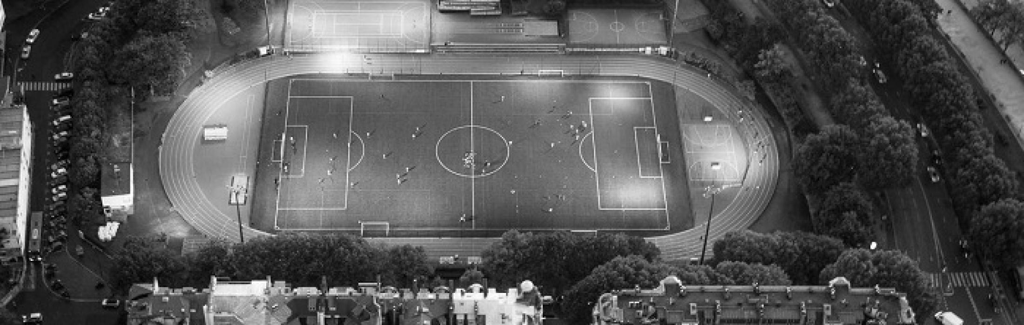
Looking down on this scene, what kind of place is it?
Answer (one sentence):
This looks like a sports ground.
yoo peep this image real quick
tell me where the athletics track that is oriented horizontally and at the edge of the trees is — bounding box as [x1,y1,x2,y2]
[161,53,778,263]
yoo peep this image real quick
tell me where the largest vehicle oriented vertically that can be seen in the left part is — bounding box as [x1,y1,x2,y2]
[27,206,42,262]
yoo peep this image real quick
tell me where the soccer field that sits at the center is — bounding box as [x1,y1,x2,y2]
[250,72,696,238]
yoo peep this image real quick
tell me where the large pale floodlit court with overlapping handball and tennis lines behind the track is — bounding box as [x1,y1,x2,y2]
[280,0,431,50]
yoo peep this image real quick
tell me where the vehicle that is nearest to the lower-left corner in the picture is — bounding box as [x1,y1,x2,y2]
[20,311,43,323]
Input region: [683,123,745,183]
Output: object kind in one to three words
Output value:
basketball court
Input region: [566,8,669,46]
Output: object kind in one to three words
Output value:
basketball court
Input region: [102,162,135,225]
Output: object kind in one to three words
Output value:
building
